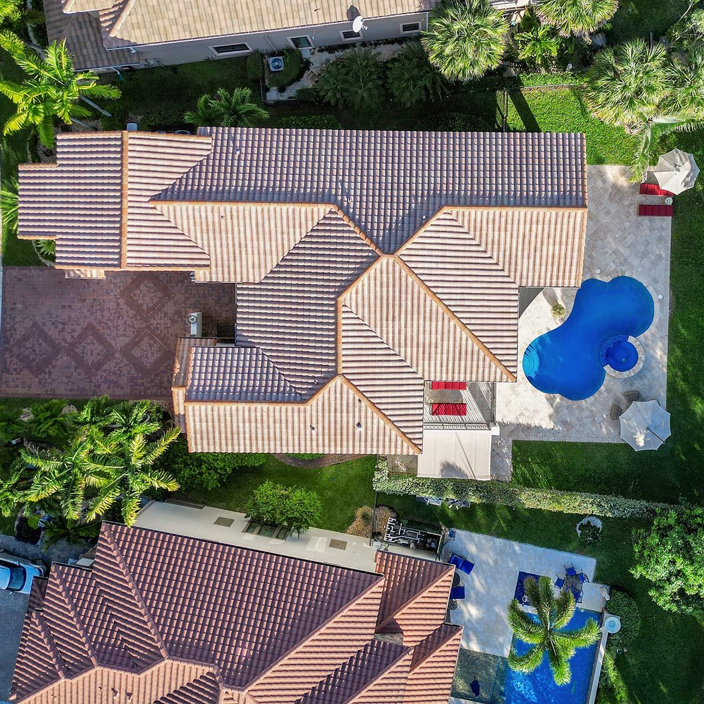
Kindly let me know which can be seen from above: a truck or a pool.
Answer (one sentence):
The image shows a pool.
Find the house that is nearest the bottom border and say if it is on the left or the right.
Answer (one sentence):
It is on the left.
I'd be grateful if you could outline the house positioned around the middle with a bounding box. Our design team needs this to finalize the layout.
[15,125,589,456]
